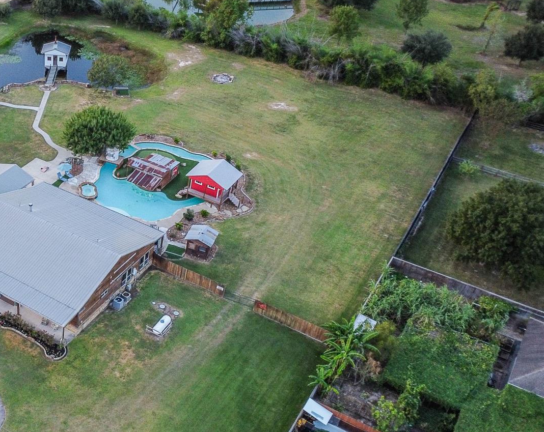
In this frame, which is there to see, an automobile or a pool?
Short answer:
pool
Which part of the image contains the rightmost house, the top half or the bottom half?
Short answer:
bottom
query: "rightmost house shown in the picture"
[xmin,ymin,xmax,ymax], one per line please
[507,324,544,403]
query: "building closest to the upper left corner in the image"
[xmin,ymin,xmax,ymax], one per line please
[42,41,70,83]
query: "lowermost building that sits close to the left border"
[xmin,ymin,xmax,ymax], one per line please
[0,179,164,343]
